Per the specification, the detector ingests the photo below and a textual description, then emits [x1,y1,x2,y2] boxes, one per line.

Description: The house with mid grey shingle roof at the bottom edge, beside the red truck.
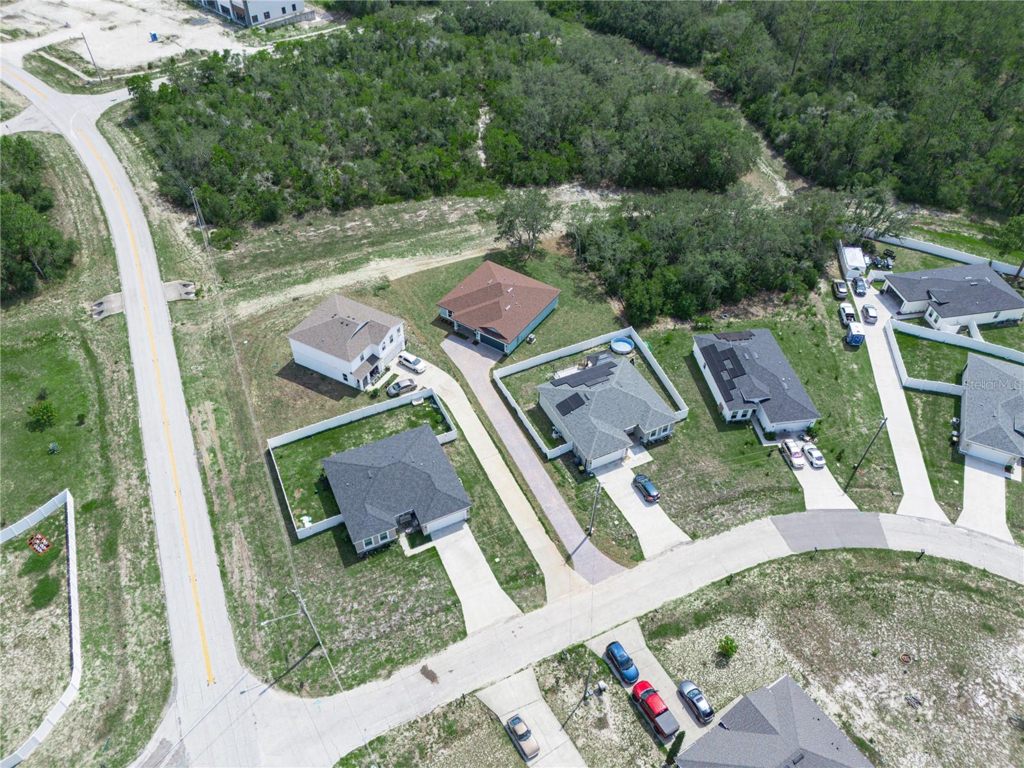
[675,670,875,768]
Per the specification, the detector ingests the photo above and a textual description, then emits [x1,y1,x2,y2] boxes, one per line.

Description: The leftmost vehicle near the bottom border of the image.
[502,709,542,767]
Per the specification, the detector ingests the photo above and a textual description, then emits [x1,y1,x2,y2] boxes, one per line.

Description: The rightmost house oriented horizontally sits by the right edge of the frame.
[881,264,1024,330]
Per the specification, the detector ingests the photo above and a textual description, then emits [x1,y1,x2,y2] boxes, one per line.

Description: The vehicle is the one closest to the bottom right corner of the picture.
[676,677,717,727]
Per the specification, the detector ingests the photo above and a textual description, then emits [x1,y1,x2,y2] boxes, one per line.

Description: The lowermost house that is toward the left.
[323,424,472,552]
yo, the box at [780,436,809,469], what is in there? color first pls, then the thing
white car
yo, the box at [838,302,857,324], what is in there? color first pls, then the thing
white vehicle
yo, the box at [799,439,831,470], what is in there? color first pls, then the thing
white car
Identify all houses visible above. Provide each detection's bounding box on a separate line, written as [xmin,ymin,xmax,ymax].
[675,670,875,768]
[437,261,563,355]
[691,329,822,433]
[881,264,1024,330]
[959,352,1024,468]
[286,295,405,392]
[194,0,303,26]
[535,356,679,471]
[323,424,472,552]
